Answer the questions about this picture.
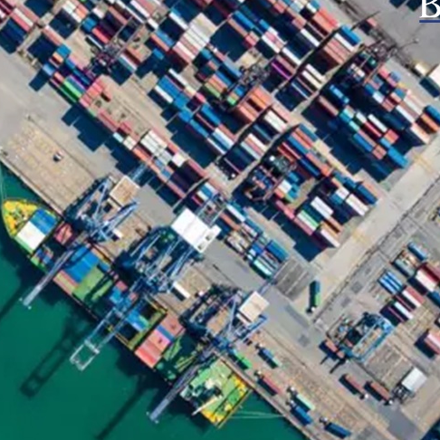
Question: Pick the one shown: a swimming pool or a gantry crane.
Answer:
gantry crane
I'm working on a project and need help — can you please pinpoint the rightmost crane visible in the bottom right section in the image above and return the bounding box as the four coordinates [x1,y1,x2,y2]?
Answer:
[331,305,397,366]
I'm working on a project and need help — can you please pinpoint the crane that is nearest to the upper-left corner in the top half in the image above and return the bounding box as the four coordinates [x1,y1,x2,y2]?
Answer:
[87,15,143,81]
